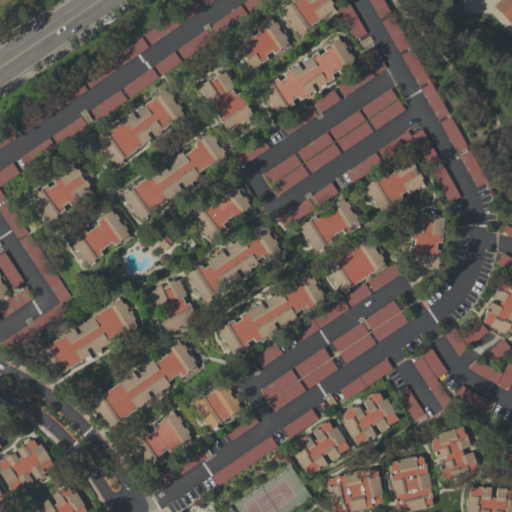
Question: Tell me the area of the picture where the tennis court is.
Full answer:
The tennis court is in the bottom part of the image.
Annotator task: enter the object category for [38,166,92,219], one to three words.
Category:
house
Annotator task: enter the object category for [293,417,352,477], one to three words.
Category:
house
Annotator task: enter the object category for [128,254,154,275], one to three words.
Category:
swimming pool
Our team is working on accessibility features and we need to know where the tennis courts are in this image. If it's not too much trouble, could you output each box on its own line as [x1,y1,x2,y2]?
[229,467,310,512]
